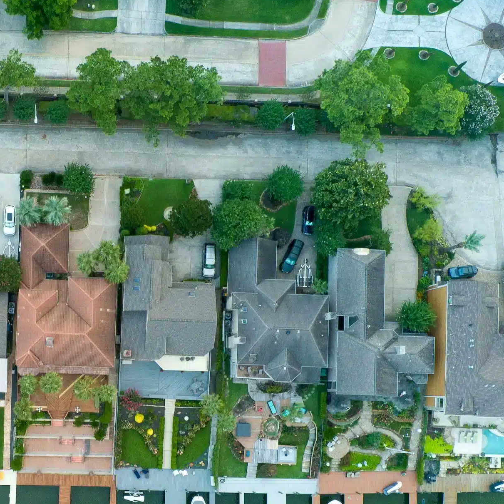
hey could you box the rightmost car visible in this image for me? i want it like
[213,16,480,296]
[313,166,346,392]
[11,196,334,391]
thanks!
[447,264,479,279]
